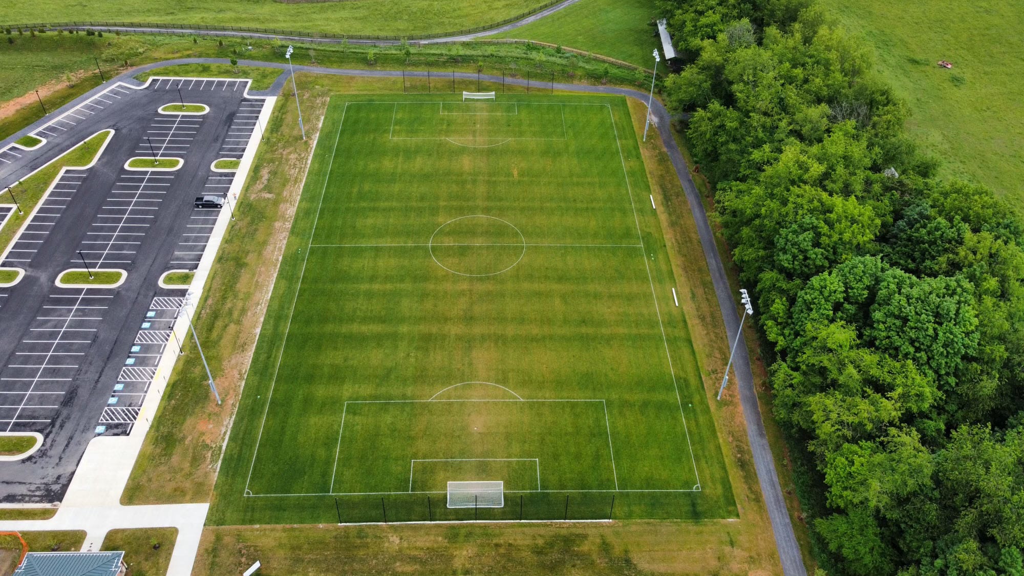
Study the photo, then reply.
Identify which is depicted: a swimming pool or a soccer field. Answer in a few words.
soccer field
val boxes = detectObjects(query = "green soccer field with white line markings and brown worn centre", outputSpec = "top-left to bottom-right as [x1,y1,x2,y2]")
[204,94,739,525]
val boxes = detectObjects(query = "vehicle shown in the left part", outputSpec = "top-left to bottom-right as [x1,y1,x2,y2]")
[193,195,226,207]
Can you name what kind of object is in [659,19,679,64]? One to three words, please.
shed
